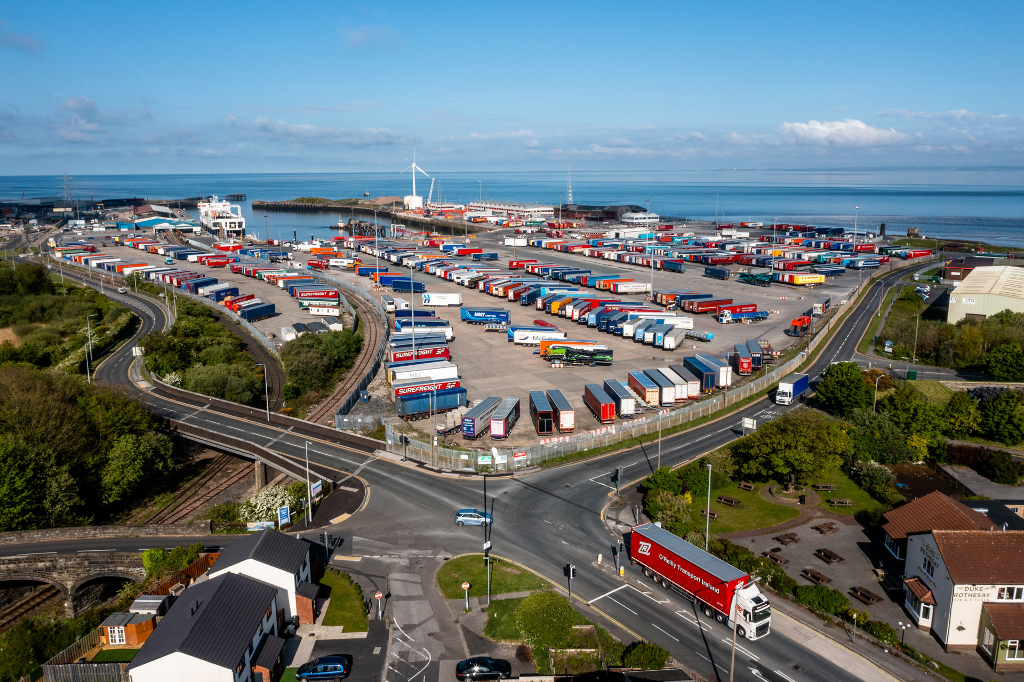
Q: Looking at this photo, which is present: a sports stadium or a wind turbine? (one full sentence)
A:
Looking from above, you can make out a wind turbine.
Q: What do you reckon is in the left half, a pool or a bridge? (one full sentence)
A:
You can see a bridge in the left half.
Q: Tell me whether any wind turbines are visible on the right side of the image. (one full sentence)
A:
No, no wind turbine appears on the right side of the image.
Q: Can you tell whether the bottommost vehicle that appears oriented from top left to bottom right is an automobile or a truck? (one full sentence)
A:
Specifically, the bottommost vehicle that appears oriented from top left to bottom right is a truck.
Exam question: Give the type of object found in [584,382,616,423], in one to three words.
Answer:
trailer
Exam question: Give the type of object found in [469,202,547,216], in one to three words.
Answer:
building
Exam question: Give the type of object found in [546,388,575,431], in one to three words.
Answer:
trailer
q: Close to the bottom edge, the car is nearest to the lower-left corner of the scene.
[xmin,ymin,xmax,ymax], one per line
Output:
[298,653,352,682]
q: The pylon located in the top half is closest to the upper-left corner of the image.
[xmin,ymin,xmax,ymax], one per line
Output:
[59,171,75,211]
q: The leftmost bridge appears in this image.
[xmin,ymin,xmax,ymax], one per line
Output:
[0,521,185,611]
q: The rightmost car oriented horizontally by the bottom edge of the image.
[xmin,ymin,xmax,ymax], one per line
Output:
[456,659,512,682]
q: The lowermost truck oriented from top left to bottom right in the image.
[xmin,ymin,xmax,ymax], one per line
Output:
[629,520,774,636]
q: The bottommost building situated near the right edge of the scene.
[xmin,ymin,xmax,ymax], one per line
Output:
[892,527,1024,678]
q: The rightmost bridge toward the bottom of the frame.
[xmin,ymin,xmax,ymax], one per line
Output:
[132,377,386,489]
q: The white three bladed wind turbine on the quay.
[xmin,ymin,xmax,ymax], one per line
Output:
[400,145,428,198]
